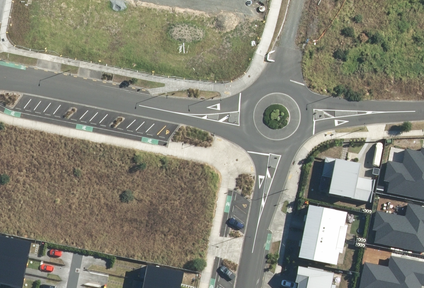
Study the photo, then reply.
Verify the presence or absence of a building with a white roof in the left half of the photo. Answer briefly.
No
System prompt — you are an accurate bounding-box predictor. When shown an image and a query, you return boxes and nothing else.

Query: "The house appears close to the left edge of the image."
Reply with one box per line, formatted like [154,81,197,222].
[0,234,30,287]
